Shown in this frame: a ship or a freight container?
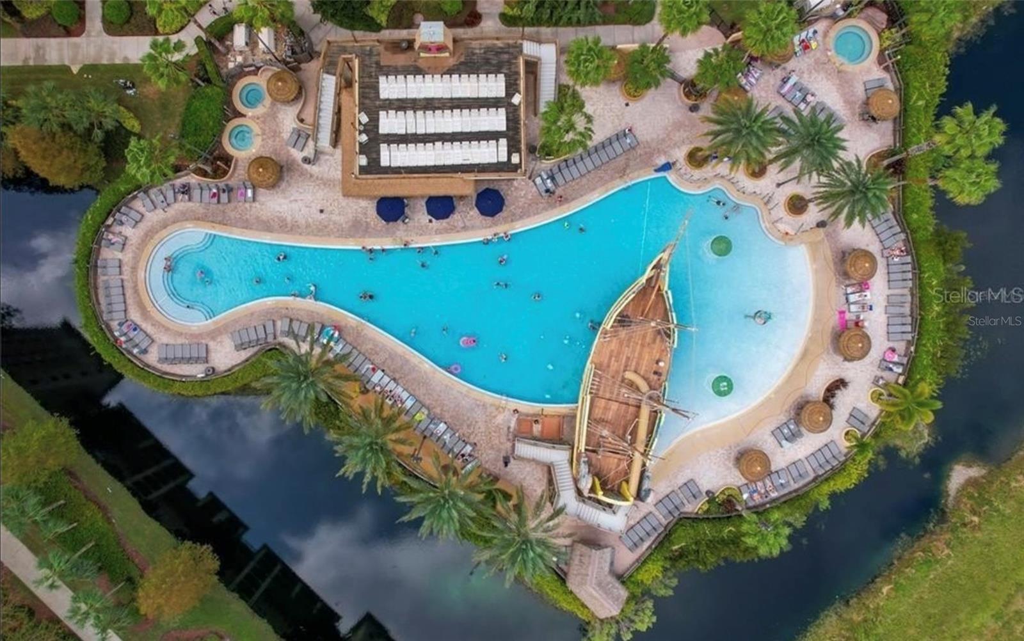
ship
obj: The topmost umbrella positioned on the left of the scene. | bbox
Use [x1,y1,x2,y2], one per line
[266,71,300,105]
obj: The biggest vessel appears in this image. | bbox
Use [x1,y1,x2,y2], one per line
[571,214,696,515]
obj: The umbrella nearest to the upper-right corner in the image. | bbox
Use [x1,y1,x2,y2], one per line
[864,88,900,124]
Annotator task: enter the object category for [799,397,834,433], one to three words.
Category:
umbrella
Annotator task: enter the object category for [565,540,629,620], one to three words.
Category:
shed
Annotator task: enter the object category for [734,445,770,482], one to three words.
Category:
umbrella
